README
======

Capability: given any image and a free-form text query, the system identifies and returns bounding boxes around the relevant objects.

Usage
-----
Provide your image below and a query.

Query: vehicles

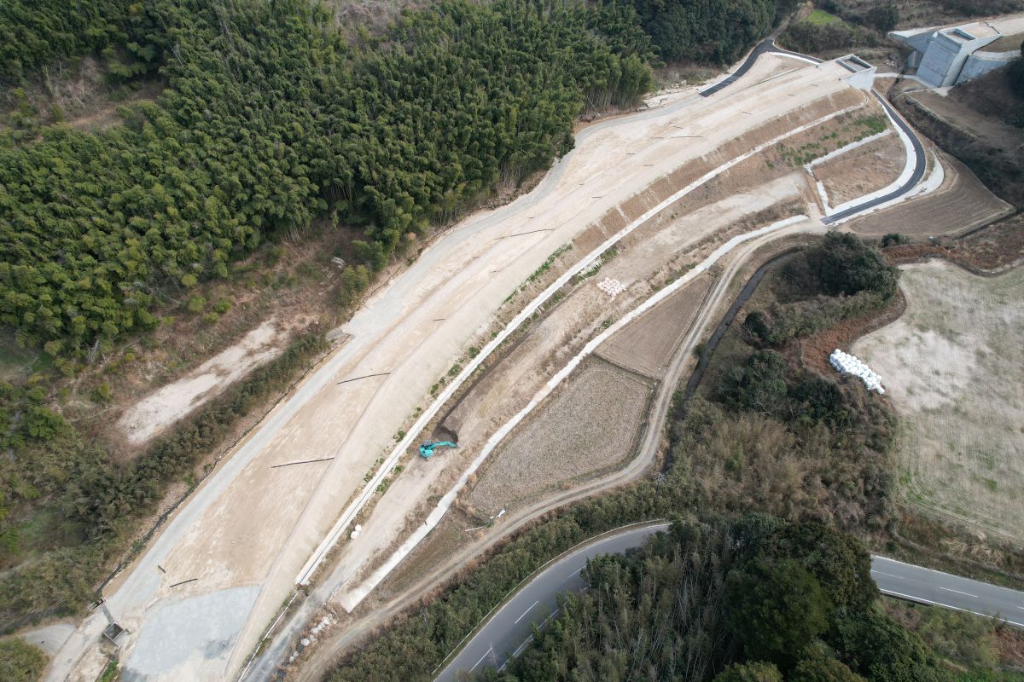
[419,438,457,458]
